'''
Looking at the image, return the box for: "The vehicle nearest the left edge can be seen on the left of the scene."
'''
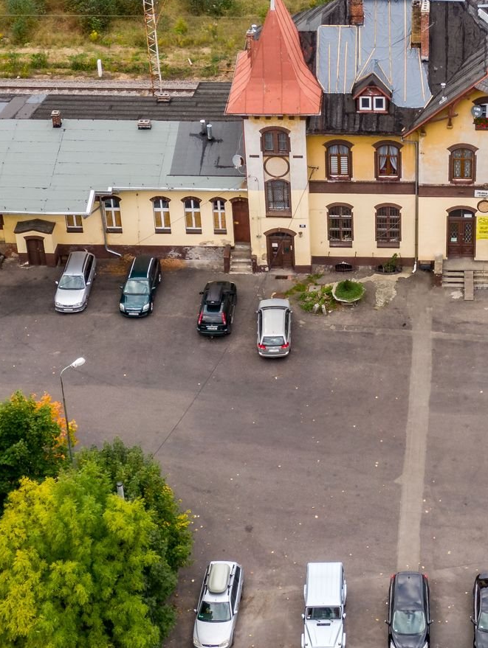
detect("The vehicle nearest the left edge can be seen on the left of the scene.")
[55,250,102,311]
